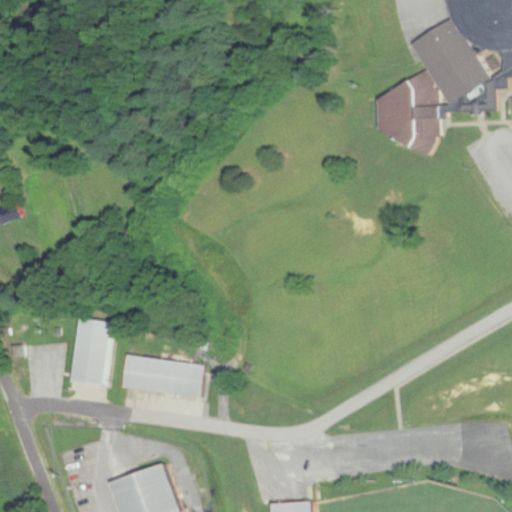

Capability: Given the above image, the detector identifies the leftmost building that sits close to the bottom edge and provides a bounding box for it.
[108,464,180,512]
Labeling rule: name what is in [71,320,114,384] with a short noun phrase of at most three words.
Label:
building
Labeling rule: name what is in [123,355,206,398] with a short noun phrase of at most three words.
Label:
shed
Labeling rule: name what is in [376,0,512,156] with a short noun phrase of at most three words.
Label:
church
